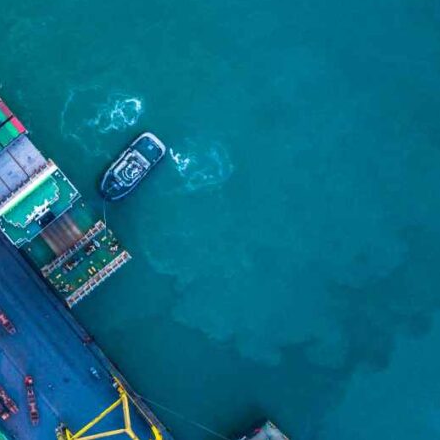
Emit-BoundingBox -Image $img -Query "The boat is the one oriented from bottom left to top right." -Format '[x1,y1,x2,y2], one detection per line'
[101,126,169,201]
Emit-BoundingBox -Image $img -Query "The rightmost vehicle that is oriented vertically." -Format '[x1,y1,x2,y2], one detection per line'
[24,374,39,424]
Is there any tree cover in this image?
No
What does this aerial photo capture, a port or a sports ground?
port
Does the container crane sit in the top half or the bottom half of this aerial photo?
bottom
